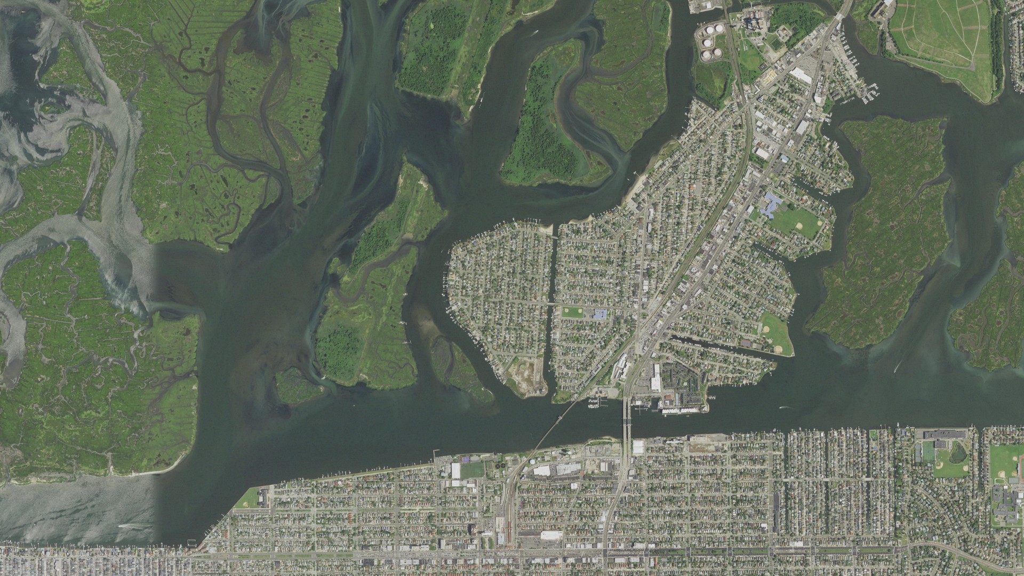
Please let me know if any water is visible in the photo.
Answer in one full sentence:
Yes, the picture does contain water.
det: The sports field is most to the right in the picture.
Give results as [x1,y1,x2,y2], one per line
[990,444,1024,484]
